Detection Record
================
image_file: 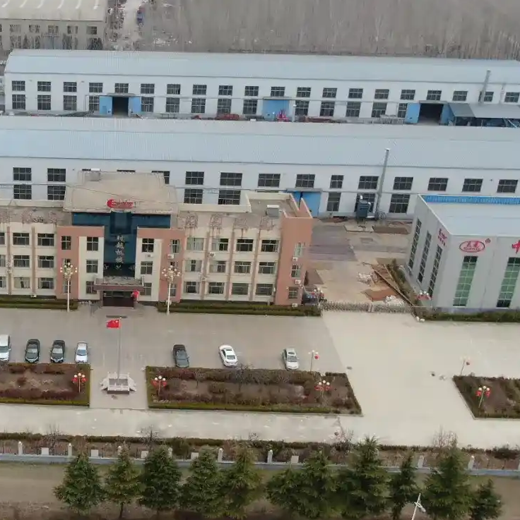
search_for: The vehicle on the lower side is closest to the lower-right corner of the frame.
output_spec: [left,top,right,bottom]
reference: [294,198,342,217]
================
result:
[279,346,298,368]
